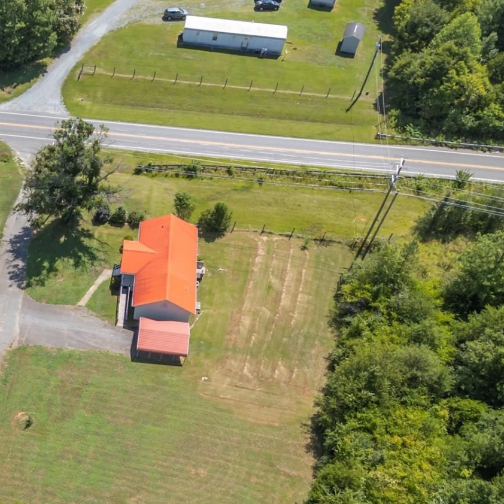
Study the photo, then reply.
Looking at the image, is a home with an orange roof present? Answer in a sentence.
Yes, there's a home with an orange roof down there.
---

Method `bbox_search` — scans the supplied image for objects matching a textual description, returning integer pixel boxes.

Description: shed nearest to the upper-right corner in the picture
[340,24,366,54]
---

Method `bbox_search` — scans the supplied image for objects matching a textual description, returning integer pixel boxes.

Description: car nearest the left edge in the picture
[164,8,187,21]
